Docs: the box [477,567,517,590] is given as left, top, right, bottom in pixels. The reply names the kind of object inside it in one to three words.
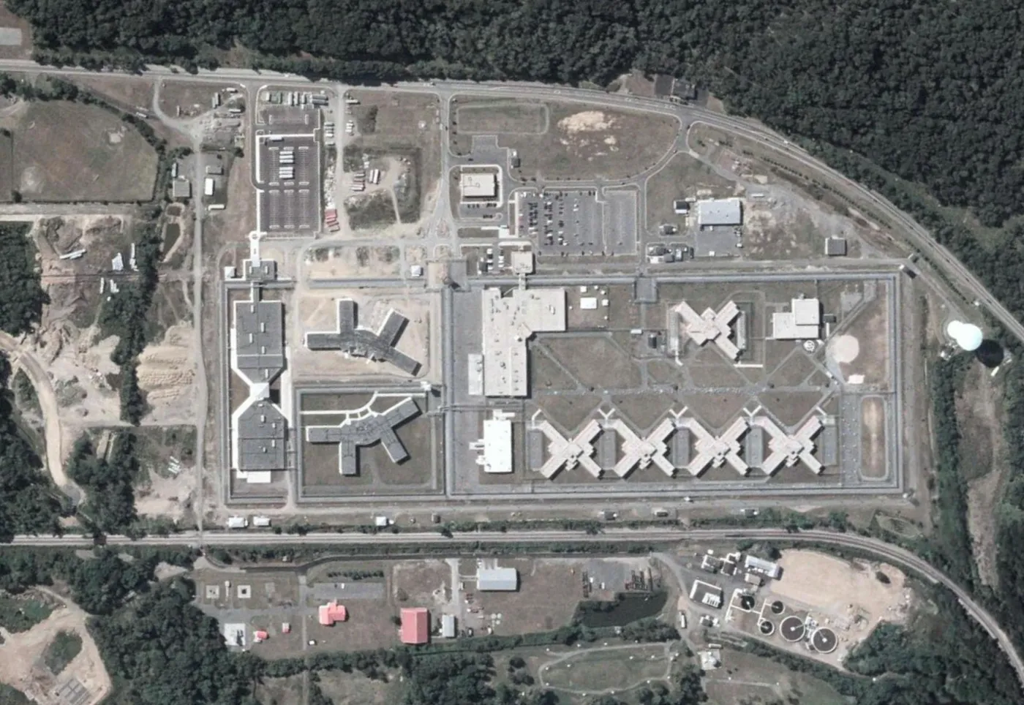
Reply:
building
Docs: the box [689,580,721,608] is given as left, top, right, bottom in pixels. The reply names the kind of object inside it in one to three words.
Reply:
house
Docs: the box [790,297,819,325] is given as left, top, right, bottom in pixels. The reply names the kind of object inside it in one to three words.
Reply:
building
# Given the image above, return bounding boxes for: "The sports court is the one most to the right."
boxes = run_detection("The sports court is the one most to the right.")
[823,426,837,464]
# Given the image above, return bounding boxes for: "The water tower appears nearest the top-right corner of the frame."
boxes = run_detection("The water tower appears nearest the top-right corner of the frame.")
[948,321,982,350]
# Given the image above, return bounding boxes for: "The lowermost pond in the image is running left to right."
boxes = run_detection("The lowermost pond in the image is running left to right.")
[576,592,667,627]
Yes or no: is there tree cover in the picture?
Yes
